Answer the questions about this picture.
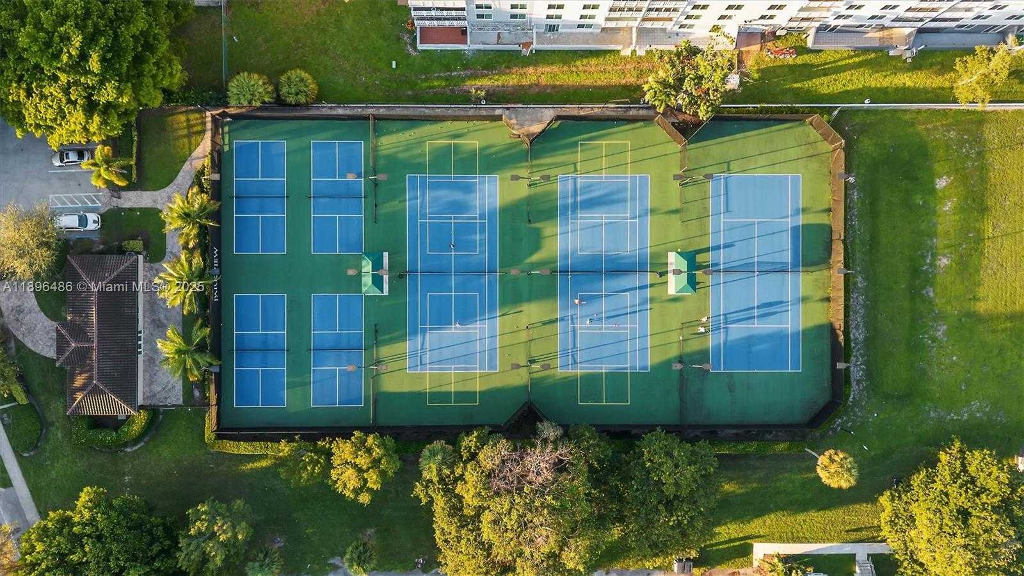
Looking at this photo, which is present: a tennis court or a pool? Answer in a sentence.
Visible in the photo is a tennis court.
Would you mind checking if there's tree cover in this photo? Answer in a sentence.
Yes, the picture does contain tree cover.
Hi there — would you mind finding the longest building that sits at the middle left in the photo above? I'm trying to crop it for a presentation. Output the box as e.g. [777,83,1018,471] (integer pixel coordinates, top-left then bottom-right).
[55,254,146,421]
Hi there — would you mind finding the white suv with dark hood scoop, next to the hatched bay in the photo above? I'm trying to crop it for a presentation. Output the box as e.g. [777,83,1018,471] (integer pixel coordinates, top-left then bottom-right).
[56,212,102,231]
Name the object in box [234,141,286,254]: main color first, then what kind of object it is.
blue sports court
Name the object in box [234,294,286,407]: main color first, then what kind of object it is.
blue sports court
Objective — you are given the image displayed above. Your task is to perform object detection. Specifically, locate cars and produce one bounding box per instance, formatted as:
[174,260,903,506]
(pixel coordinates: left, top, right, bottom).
[56,212,102,231]
[52,150,94,168]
